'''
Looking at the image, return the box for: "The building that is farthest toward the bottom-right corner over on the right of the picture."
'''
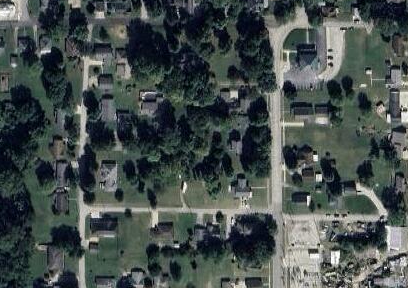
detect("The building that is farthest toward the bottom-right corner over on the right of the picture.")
[387,227,404,252]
